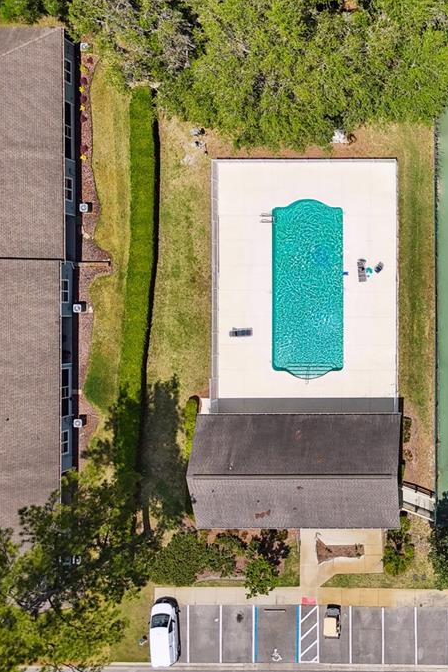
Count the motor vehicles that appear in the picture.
2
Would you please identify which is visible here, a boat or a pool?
pool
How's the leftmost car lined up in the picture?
up and down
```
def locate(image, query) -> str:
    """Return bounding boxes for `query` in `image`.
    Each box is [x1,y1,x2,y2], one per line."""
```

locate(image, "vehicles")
[323,603,343,638]
[148,604,180,666]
